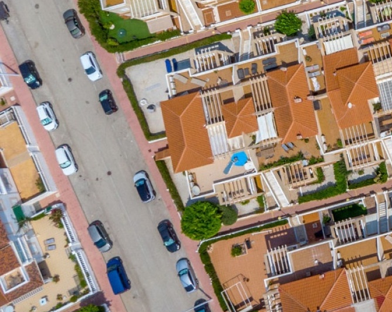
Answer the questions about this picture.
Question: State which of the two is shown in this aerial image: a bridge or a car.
car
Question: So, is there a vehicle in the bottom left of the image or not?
Yes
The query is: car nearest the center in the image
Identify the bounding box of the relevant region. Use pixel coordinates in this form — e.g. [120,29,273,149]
[135,173,155,201]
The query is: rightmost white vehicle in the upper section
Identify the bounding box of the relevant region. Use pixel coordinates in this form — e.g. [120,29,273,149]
[83,53,101,80]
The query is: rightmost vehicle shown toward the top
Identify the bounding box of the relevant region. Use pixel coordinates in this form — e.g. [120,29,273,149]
[100,90,119,115]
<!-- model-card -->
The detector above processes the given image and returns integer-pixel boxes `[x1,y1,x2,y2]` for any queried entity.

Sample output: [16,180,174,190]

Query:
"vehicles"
[20,61,42,89]
[88,220,112,251]
[135,173,155,201]
[100,90,119,115]
[159,222,179,250]
[196,300,210,312]
[83,53,101,80]
[36,101,58,131]
[107,258,129,293]
[65,10,85,36]
[178,259,198,291]
[57,146,77,174]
